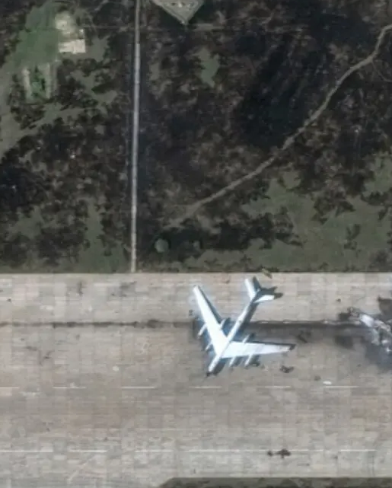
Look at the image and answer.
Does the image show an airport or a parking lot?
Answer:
airport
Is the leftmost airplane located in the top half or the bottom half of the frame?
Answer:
bottom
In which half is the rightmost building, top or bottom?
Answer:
top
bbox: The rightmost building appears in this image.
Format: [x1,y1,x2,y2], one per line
[156,0,203,24]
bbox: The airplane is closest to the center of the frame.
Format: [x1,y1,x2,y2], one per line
[194,280,295,380]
